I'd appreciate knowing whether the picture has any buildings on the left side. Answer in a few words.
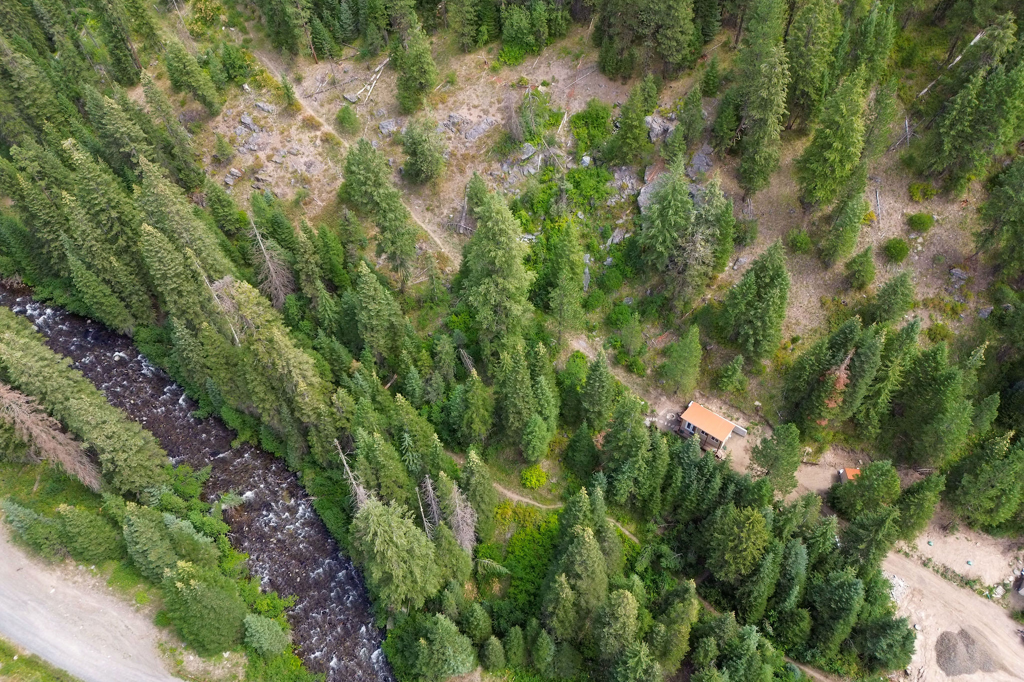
No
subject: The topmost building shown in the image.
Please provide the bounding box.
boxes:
[676,401,737,460]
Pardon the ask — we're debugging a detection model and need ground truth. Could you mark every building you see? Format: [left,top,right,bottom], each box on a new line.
[841,466,871,491]
[676,401,737,460]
